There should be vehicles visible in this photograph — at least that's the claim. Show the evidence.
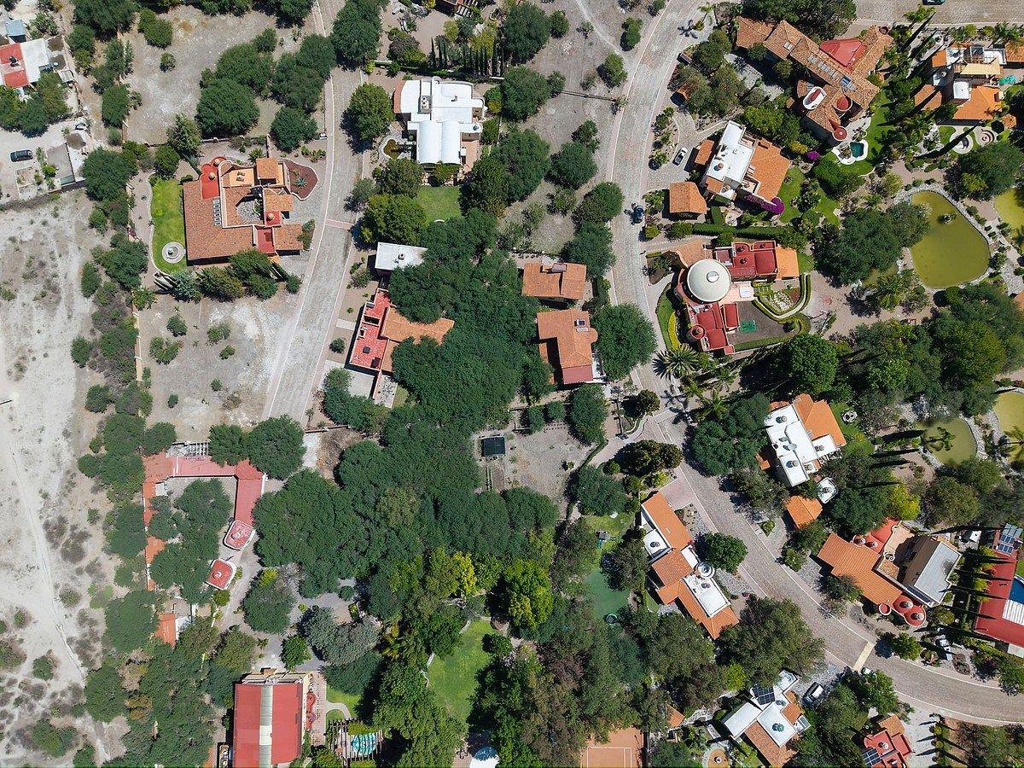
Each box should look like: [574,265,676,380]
[857,663,878,680]
[633,203,644,224]
[9,149,34,162]
[802,680,825,706]
[672,145,689,167]
[924,0,945,6]
[936,634,952,660]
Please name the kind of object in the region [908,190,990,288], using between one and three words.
pond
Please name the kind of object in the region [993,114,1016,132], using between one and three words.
gazebo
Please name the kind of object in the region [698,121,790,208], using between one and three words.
house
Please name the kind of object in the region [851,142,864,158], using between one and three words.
swimming pool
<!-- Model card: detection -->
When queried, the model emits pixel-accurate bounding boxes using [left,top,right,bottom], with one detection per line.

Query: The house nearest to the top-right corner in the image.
[911,40,1024,126]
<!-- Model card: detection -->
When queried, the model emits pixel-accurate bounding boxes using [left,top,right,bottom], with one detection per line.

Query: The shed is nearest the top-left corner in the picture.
[6,20,31,42]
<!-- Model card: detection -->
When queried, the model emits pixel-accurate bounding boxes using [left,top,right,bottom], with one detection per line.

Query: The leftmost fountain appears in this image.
[162,241,184,262]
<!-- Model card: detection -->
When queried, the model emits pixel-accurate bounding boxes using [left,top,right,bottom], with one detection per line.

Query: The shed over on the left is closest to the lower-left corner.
[155,610,192,644]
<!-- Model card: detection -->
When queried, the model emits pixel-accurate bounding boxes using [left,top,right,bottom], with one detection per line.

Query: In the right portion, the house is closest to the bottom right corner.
[853,715,912,768]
